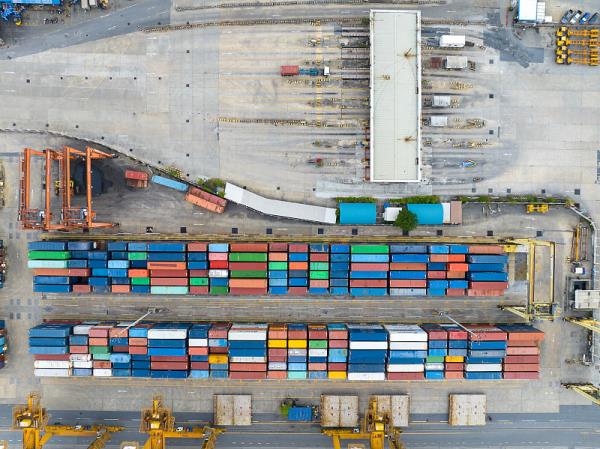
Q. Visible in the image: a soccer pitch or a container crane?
container crane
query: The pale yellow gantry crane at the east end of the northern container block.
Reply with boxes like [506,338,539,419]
[495,236,561,322]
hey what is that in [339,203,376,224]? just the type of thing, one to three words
shed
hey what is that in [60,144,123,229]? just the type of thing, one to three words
container crane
